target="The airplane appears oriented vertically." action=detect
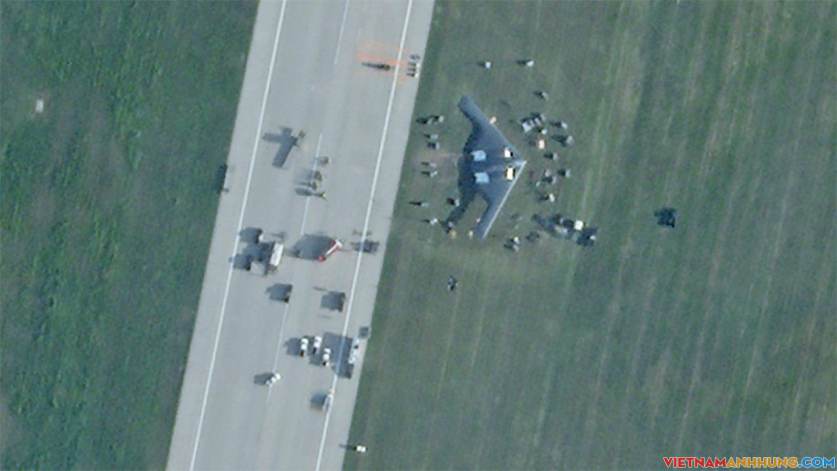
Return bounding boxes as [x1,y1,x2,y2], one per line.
[458,97,525,240]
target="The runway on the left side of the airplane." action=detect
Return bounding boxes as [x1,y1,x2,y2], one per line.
[167,0,435,471]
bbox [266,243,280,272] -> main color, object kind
white vehicle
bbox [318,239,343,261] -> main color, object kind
white truck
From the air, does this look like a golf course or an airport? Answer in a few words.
airport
